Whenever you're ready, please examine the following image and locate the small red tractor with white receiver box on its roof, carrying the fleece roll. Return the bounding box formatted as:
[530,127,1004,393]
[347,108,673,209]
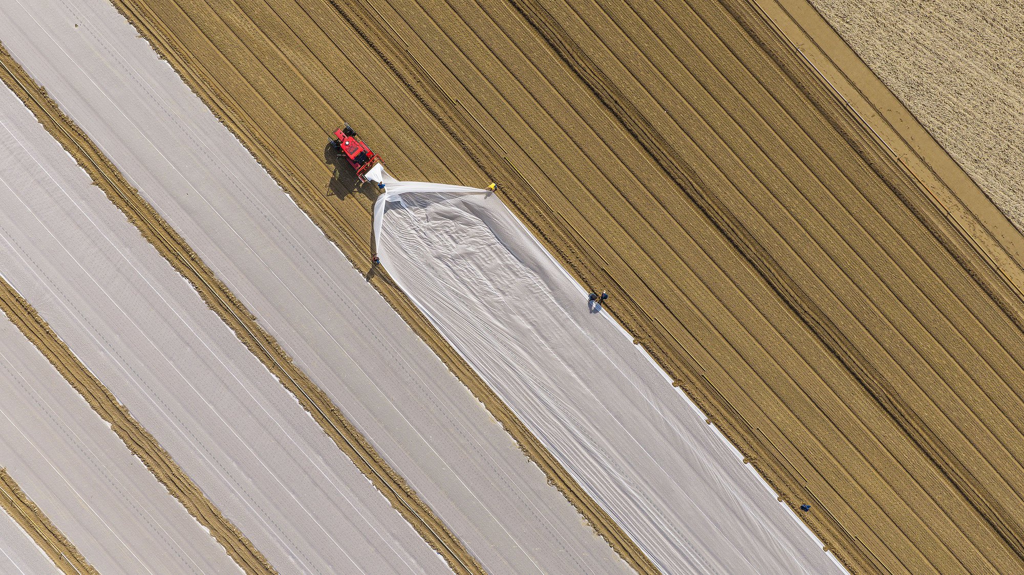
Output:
[328,122,386,182]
